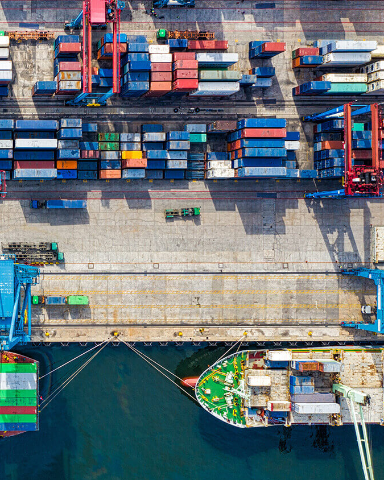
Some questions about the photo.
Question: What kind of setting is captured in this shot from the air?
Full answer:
What you see here is a port.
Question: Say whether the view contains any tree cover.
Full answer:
No, there is no tree cover in the image.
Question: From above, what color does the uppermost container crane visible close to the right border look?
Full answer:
The uppermost container crane visible close to the right border is red.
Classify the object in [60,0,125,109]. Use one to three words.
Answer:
container crane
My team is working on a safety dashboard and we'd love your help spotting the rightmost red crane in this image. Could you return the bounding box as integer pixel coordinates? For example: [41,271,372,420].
[301,99,384,207]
